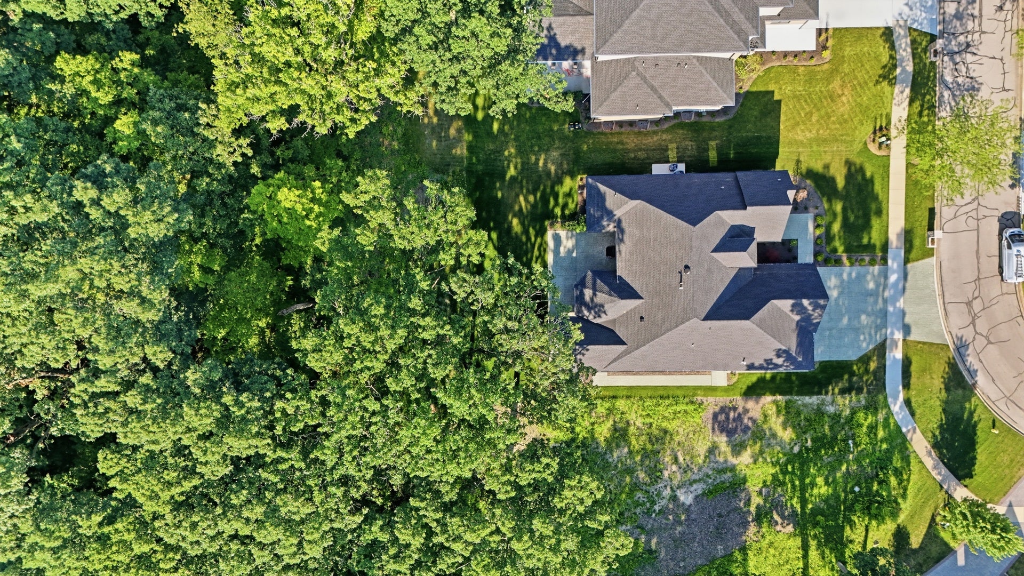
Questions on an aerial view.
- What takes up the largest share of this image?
trees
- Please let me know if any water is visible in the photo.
No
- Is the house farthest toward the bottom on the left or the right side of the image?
right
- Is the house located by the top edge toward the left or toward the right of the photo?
right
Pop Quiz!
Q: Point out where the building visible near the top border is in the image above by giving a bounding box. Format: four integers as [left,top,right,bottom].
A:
[523,0,819,132]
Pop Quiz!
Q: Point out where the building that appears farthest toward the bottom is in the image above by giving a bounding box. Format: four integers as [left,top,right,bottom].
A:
[568,170,829,373]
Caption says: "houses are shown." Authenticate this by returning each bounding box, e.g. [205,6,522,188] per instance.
[523,0,819,132]
[568,170,829,373]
